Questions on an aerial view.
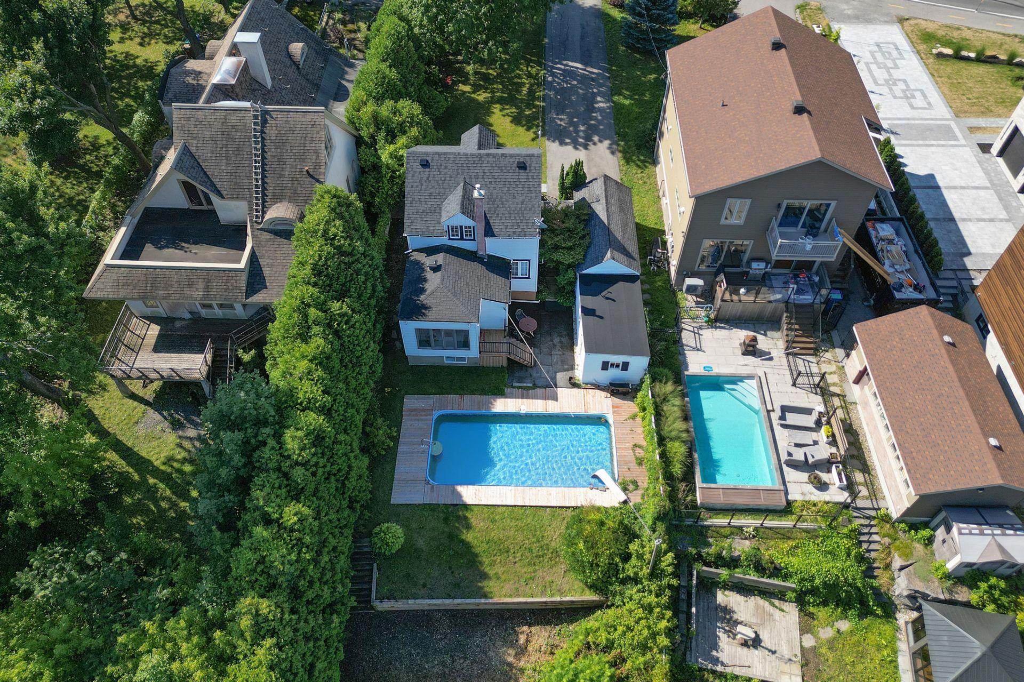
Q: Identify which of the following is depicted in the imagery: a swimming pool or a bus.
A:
swimming pool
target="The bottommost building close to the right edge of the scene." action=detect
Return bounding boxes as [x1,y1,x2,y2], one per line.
[887,598,1024,682]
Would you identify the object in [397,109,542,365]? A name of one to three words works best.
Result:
house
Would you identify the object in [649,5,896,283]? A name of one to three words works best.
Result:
house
